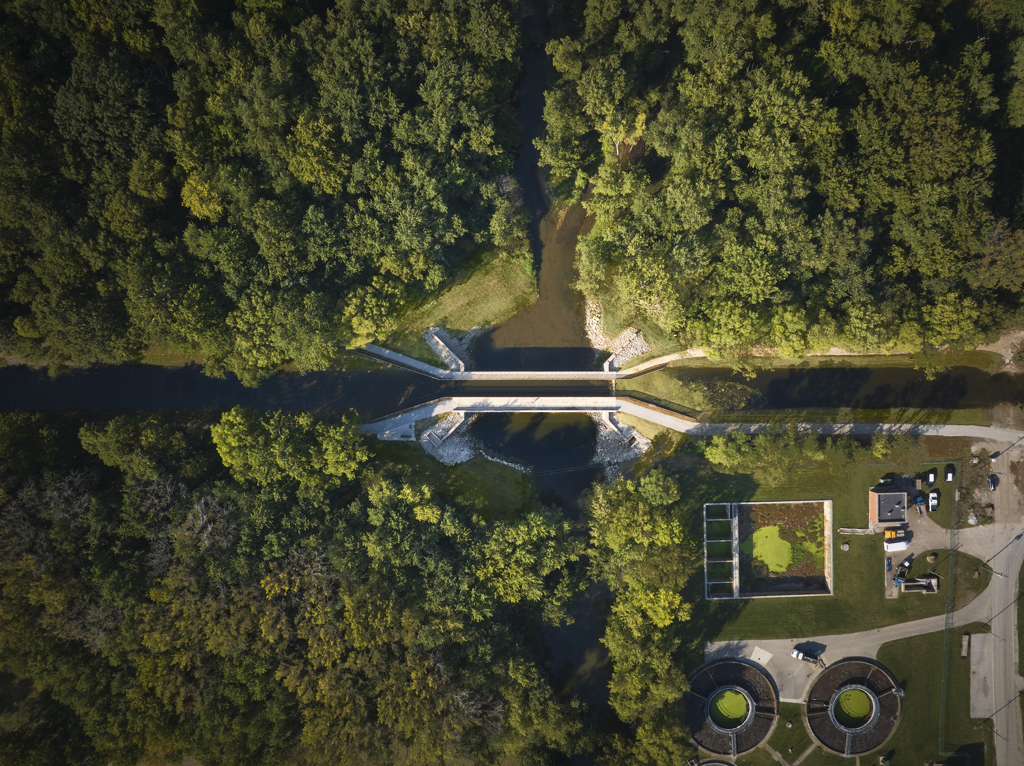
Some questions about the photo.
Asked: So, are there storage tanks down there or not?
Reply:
Yes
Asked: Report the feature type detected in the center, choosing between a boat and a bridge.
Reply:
bridge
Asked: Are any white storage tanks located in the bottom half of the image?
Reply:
No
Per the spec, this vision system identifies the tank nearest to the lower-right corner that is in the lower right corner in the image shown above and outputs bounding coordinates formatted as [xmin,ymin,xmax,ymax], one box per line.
[806,661,907,765]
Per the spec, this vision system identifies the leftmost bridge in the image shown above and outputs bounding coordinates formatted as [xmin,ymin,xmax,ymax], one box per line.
[432,330,641,444]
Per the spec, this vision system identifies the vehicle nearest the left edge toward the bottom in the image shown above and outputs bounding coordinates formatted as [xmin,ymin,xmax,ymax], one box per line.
[791,648,827,663]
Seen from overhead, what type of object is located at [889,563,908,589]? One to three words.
vehicle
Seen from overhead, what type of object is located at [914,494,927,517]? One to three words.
vehicle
